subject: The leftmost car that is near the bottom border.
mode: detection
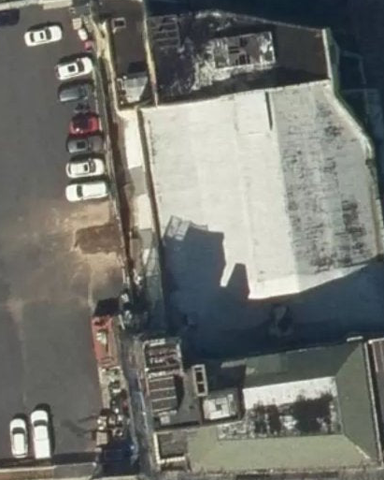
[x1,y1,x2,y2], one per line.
[9,416,30,457]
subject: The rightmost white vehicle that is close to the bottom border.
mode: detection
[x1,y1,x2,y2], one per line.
[28,407,51,459]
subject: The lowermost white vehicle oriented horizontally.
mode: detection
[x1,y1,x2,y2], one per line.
[66,182,108,201]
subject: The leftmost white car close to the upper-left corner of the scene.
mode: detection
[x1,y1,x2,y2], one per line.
[23,25,63,46]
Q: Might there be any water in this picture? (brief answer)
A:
No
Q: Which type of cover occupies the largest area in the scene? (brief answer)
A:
buildings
